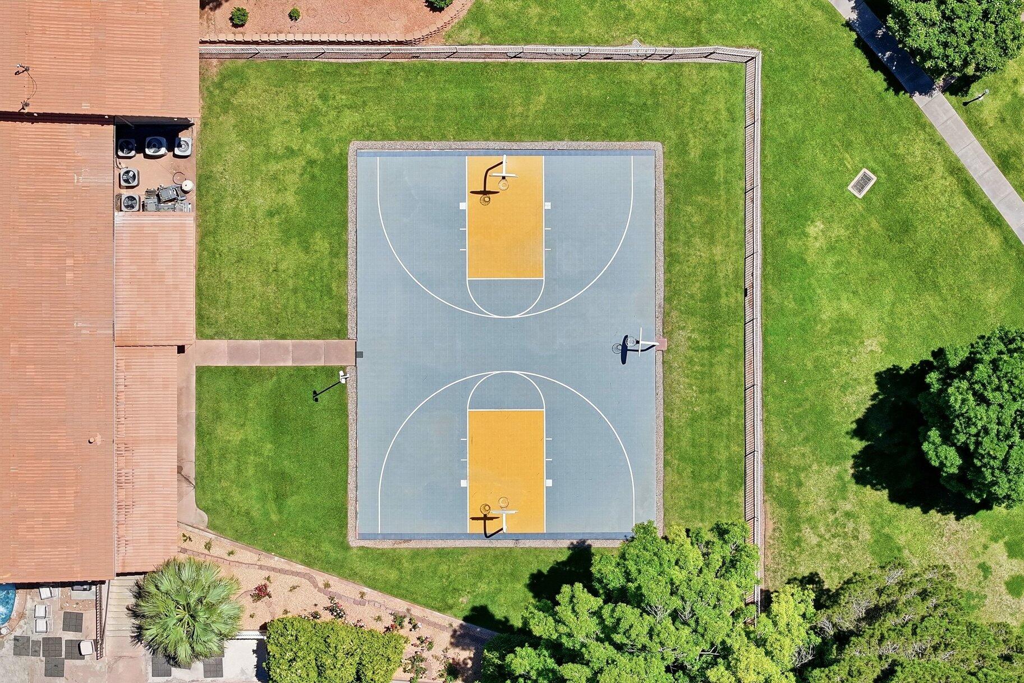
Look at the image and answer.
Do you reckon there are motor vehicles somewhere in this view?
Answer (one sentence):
No, the picture doesn't show any motor vehicle.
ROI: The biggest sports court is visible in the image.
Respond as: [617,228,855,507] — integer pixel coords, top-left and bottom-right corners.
[357,150,656,539]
